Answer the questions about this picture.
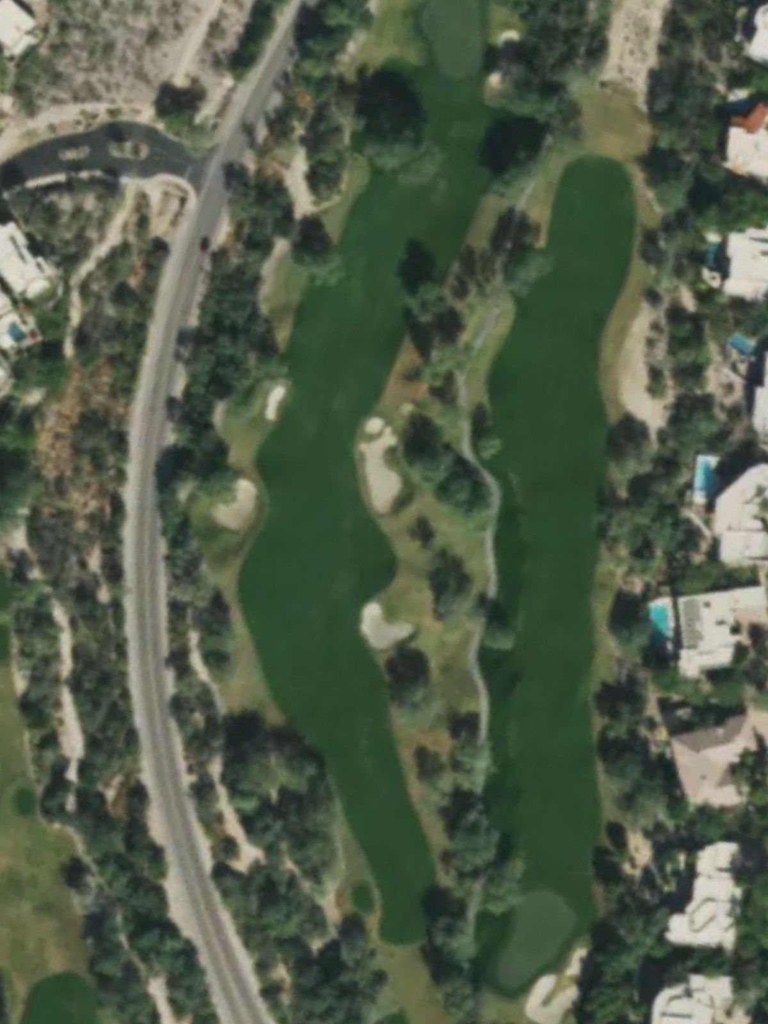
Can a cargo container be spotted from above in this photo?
No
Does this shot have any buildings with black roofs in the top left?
No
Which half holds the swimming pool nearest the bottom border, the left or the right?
right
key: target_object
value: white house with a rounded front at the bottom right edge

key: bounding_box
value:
[652,975,752,1024]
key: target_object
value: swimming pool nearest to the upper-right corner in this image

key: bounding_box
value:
[704,234,721,267]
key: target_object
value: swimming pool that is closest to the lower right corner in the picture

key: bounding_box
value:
[649,596,677,648]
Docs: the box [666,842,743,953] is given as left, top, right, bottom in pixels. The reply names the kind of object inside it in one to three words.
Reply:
house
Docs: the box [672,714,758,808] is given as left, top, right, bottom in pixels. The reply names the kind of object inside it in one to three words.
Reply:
house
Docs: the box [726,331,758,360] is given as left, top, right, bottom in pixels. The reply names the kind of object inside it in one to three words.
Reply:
swimming pool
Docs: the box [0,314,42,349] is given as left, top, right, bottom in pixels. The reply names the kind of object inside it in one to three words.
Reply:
swimming pool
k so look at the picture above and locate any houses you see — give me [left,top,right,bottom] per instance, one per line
[753,352,768,442]
[0,221,49,297]
[749,1,768,62]
[672,714,758,808]
[652,975,752,1024]
[723,227,768,301]
[0,292,15,320]
[0,0,37,56]
[666,842,743,953]
[714,464,768,566]
[726,103,768,181]
[678,586,768,679]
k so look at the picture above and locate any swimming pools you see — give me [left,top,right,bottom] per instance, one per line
[704,234,721,267]
[726,331,758,360]
[649,596,677,648]
[0,314,42,349]
[693,455,719,504]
